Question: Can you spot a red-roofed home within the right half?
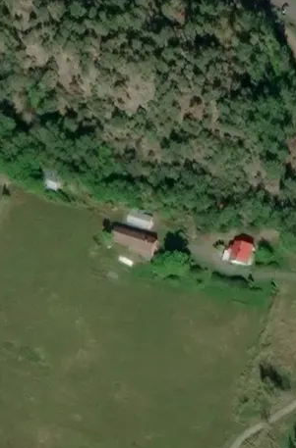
Yes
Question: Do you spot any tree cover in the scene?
Yes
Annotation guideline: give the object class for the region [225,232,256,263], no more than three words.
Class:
house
